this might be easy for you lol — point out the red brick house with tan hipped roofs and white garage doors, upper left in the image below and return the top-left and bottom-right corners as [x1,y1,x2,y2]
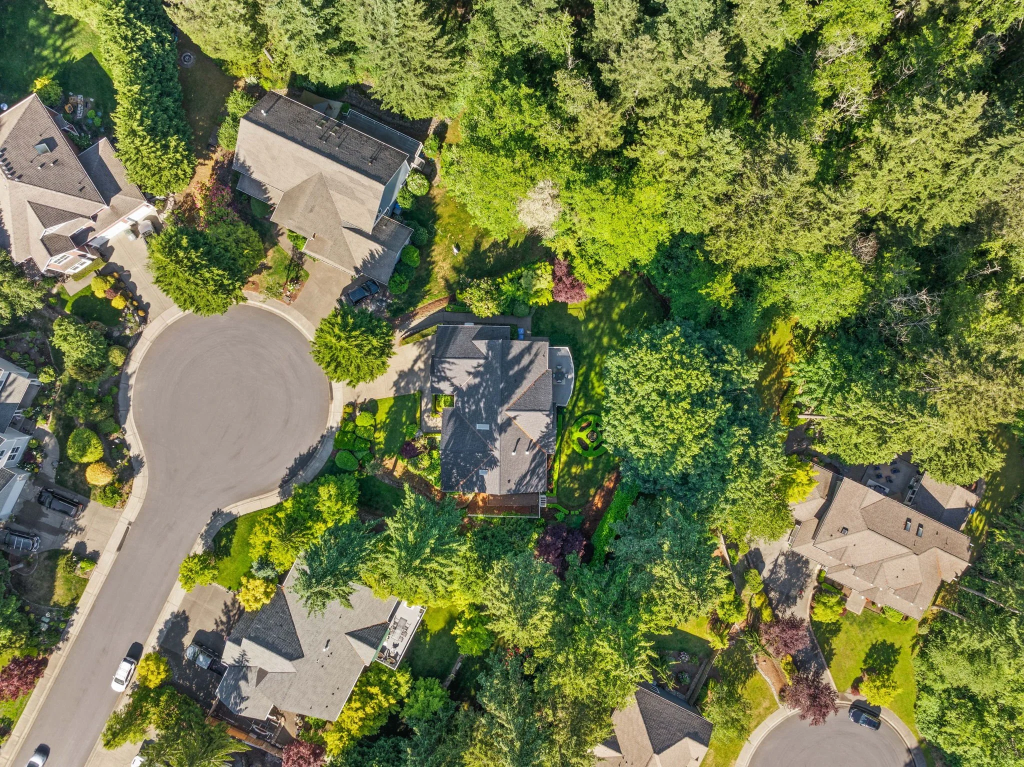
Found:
[0,93,151,274]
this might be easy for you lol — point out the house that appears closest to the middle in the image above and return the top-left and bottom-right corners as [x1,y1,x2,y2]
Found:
[430,322,557,495]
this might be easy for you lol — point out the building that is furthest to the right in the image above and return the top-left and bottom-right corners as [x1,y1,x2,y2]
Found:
[776,458,979,621]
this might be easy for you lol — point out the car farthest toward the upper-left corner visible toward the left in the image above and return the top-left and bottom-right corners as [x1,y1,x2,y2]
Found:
[137,224,166,264]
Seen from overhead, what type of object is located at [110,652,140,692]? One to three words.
car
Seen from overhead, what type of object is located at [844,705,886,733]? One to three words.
car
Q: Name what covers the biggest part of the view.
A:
trees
